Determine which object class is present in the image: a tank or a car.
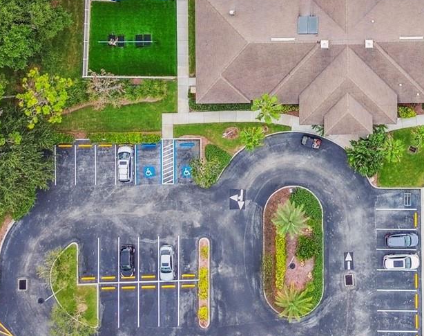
car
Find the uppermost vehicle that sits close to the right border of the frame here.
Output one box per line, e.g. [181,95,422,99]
[385,234,418,252]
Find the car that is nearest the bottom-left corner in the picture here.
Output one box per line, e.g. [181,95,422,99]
[117,244,134,278]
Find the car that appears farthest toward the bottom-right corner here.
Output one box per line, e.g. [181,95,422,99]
[383,255,419,273]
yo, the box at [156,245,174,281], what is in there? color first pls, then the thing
white car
